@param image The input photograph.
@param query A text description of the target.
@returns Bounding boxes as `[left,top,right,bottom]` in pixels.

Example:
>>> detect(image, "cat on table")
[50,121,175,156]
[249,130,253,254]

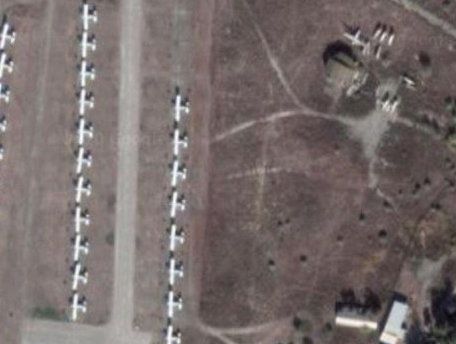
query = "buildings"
[335,311,377,328]
[379,301,408,344]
